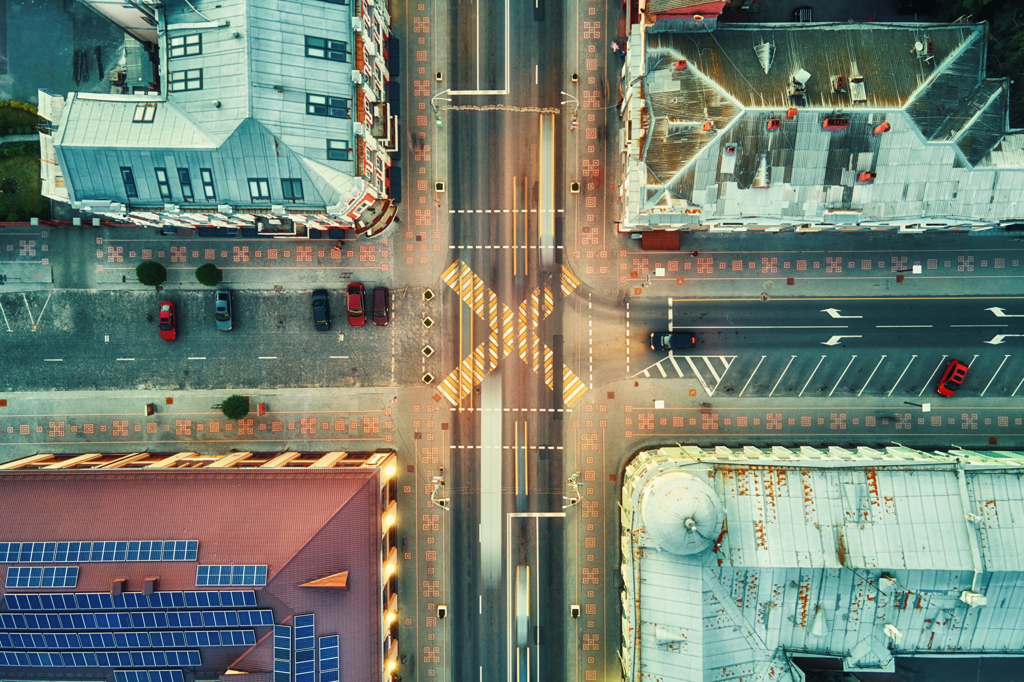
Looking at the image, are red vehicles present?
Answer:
Yes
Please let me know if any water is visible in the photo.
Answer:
No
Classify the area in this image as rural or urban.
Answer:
urban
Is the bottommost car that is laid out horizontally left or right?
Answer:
right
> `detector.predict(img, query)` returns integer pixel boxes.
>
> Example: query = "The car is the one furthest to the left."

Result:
[158,301,179,340]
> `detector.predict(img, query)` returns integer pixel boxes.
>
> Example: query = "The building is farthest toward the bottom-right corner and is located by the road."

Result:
[612,442,1024,682]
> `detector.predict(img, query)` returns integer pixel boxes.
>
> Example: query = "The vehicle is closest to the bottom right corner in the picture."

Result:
[934,358,969,398]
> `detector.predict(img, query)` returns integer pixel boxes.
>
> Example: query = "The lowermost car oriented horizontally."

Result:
[650,331,695,351]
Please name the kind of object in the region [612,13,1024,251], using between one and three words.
building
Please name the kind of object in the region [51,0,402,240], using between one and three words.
building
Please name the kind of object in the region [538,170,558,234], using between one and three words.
vehicle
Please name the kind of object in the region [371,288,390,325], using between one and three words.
car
